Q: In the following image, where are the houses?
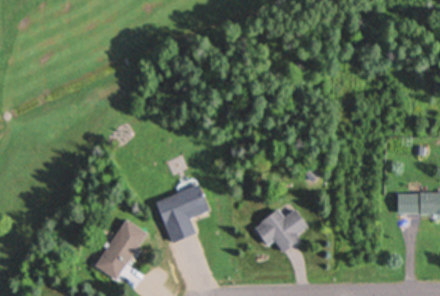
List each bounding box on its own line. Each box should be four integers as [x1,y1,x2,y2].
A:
[254,212,312,252]
[95,220,148,280]
[398,182,440,216]
[158,182,210,250]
